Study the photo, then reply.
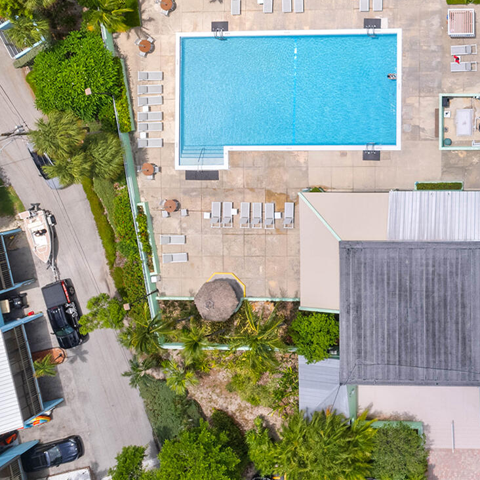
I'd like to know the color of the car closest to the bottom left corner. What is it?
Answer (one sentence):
In this view, the car closest to the bottom left corner is black.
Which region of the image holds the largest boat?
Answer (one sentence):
The largest boat is located in the left region of the scene.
